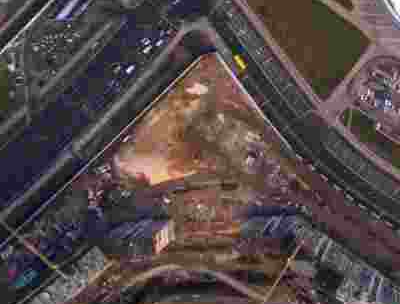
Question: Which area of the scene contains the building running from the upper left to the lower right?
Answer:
bottom right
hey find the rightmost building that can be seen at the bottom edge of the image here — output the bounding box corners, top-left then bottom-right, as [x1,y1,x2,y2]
[291,211,400,304]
